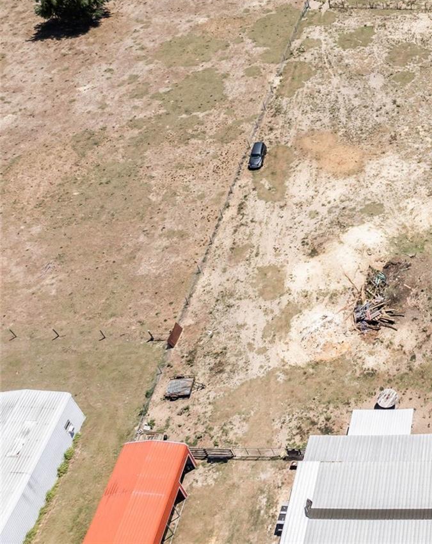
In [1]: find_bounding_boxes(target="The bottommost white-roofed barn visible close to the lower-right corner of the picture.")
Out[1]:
[279,436,432,544]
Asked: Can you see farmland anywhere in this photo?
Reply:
Yes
